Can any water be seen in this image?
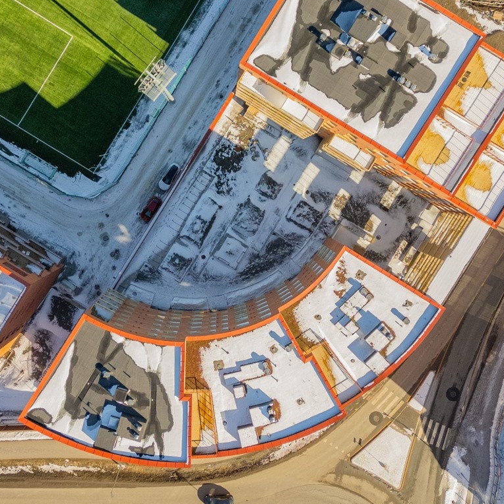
No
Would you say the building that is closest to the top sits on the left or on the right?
right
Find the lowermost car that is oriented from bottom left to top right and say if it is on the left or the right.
left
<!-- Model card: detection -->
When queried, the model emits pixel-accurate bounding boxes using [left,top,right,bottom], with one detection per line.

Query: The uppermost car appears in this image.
[158,163,181,194]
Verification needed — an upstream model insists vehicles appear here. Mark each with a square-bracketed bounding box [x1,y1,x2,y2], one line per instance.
[204,492,235,504]
[140,196,163,225]
[158,163,181,194]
